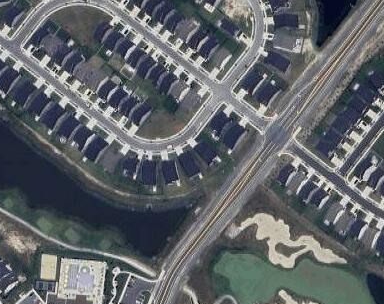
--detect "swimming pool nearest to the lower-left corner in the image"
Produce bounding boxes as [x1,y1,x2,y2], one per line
[58,258,106,304]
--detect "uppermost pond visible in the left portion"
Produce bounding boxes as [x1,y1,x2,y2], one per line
[0,113,189,259]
